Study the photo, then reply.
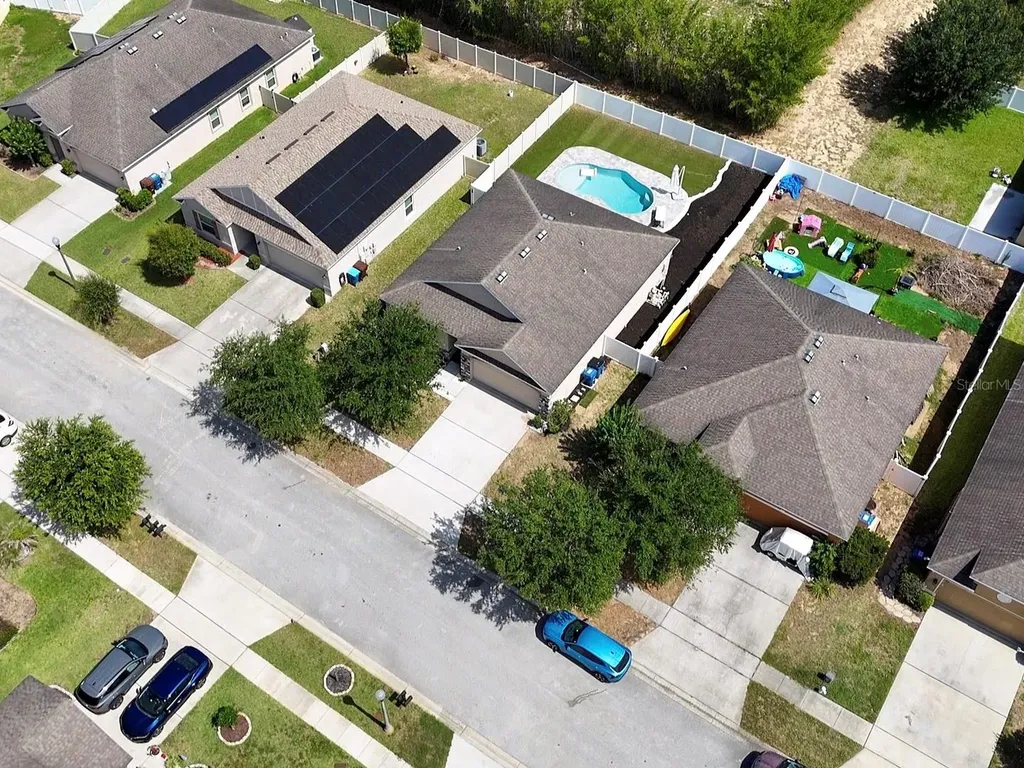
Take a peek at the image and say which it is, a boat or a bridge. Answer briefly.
boat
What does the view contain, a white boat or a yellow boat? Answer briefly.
yellow boat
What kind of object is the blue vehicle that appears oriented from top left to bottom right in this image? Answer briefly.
car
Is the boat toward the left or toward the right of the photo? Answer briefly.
right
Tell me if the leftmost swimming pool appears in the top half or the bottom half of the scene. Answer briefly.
top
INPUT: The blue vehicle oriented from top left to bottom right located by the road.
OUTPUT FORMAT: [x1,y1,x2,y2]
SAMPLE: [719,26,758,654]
[543,611,635,685]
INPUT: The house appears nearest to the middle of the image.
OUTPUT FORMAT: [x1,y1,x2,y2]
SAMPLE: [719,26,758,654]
[378,169,679,417]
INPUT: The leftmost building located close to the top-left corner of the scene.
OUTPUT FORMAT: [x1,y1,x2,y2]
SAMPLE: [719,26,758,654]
[0,0,316,196]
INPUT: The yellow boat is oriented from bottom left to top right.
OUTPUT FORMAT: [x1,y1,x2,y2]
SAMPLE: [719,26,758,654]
[663,308,691,344]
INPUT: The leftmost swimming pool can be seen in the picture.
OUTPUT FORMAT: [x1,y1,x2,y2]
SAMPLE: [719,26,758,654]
[554,161,657,216]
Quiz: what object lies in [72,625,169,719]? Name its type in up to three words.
car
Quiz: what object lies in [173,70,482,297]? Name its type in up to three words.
house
